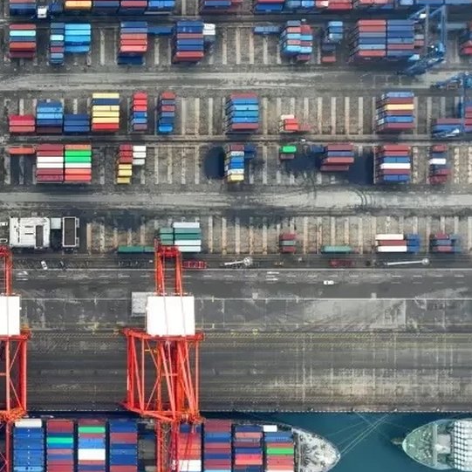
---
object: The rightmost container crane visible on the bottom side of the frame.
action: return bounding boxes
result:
[116,245,206,472]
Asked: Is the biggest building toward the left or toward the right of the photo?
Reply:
left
